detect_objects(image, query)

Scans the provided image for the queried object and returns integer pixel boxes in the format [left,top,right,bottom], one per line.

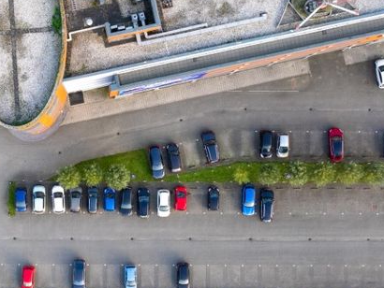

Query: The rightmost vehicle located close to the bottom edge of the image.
[176,262,191,288]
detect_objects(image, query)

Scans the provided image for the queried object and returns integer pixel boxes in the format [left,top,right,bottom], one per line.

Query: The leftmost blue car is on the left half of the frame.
[13,186,27,211]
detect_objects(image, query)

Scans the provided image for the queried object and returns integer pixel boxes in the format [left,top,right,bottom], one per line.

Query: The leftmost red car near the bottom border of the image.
[20,265,36,288]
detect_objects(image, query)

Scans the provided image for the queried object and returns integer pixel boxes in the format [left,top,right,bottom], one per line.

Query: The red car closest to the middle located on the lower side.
[173,185,188,211]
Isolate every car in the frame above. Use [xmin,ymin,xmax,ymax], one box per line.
[20,265,36,288]
[120,187,134,216]
[326,127,343,161]
[13,186,27,211]
[148,146,165,177]
[201,130,218,164]
[156,188,171,218]
[258,187,275,222]
[206,186,222,211]
[372,58,384,90]
[31,184,46,214]
[69,186,83,211]
[102,186,117,211]
[165,142,181,174]
[176,262,191,288]
[259,130,275,159]
[70,258,87,288]
[240,184,257,216]
[136,187,150,218]
[123,264,138,288]
[50,185,66,212]
[86,186,99,214]
[173,185,188,211]
[275,133,291,158]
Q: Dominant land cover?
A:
paved ground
